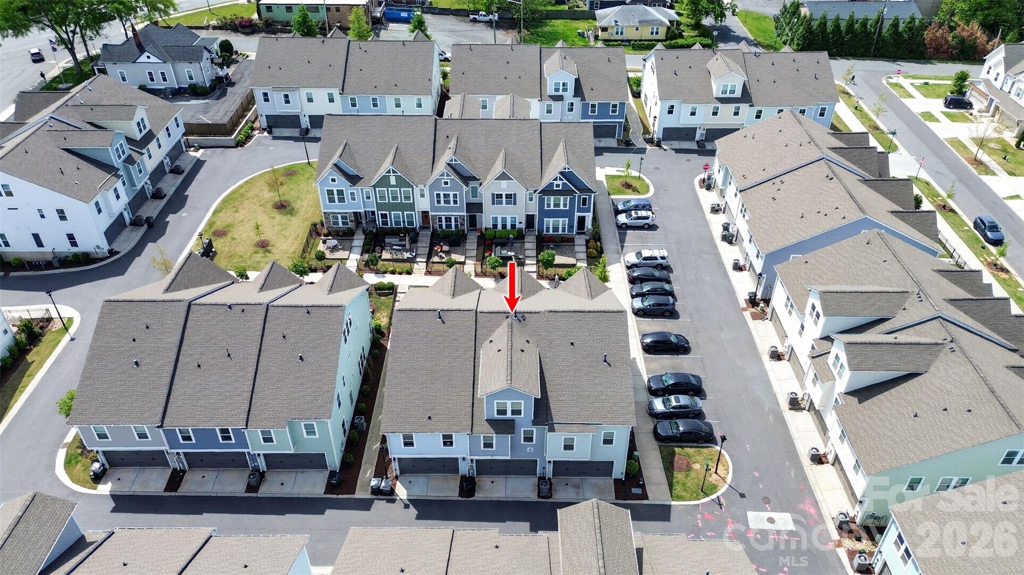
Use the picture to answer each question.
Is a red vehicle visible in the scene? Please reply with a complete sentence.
No, there appears to be no red vehicle in this shot.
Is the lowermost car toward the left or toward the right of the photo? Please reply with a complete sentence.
The lowermost car sits on the right side.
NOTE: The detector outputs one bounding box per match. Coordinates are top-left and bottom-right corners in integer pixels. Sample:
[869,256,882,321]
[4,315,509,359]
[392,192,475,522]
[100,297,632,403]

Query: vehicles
[658,414,718,440]
[619,210,659,228]
[630,279,677,298]
[650,390,708,415]
[640,329,692,351]
[616,198,655,215]
[941,94,975,108]
[647,369,703,392]
[471,12,498,23]
[625,246,670,267]
[976,217,1009,245]
[28,47,50,61]
[627,264,672,282]
[633,293,680,316]
[439,50,451,61]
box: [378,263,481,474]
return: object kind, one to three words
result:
house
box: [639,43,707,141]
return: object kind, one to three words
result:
house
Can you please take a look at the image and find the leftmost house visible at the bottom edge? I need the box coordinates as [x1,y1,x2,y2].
[0,485,111,575]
